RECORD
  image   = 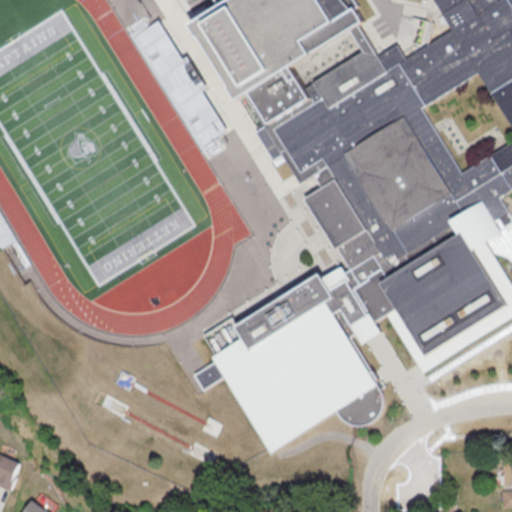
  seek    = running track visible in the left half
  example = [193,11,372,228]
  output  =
[0,0,251,336]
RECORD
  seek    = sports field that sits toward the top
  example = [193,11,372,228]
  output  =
[0,0,212,300]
